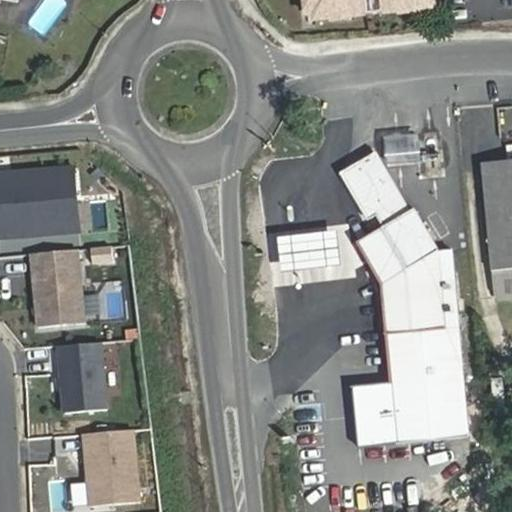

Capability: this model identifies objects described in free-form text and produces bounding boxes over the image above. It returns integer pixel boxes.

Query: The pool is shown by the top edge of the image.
[28,0,67,36]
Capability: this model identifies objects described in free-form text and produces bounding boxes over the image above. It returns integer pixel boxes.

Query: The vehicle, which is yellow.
[356,484,368,510]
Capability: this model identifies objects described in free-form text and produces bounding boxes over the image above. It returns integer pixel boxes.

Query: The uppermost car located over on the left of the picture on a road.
[152,2,165,26]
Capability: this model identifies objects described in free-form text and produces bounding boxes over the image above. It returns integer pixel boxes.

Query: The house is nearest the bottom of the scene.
[70,430,142,508]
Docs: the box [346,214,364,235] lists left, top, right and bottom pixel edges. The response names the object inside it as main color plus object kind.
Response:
gray car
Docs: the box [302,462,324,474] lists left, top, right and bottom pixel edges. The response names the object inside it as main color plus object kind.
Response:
white vehicle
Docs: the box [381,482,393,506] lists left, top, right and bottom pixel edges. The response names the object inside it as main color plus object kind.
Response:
white vehicle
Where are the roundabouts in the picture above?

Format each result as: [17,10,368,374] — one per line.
[138,42,236,140]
